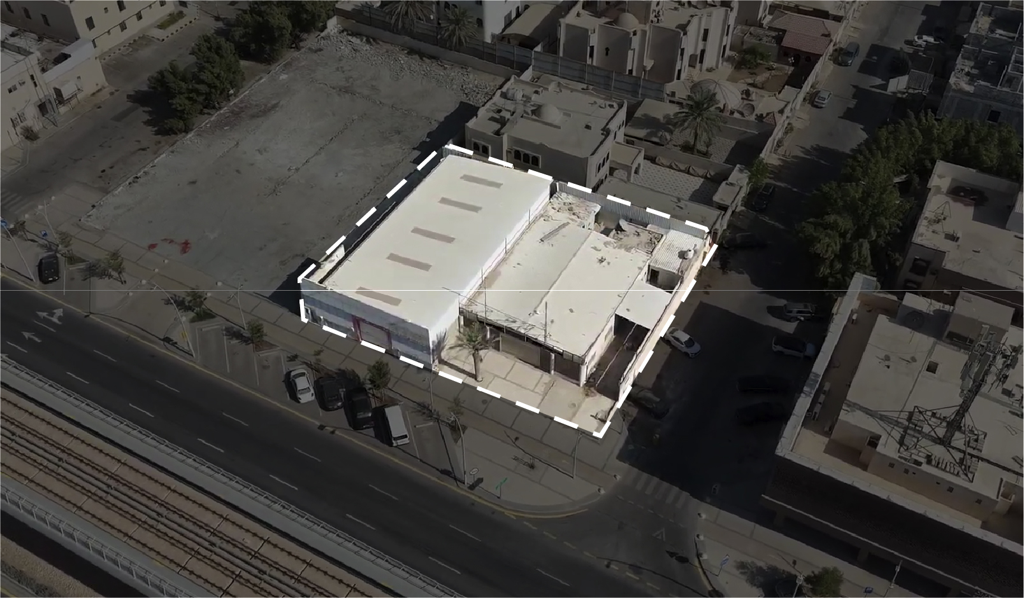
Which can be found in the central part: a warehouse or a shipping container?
warehouse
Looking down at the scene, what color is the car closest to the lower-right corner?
black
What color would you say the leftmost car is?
black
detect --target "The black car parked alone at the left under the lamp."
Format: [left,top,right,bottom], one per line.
[39,255,66,287]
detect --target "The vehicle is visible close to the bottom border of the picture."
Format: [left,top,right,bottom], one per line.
[754,560,807,598]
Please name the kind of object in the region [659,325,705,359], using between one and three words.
car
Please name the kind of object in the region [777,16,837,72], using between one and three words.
house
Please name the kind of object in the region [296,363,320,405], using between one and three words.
car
